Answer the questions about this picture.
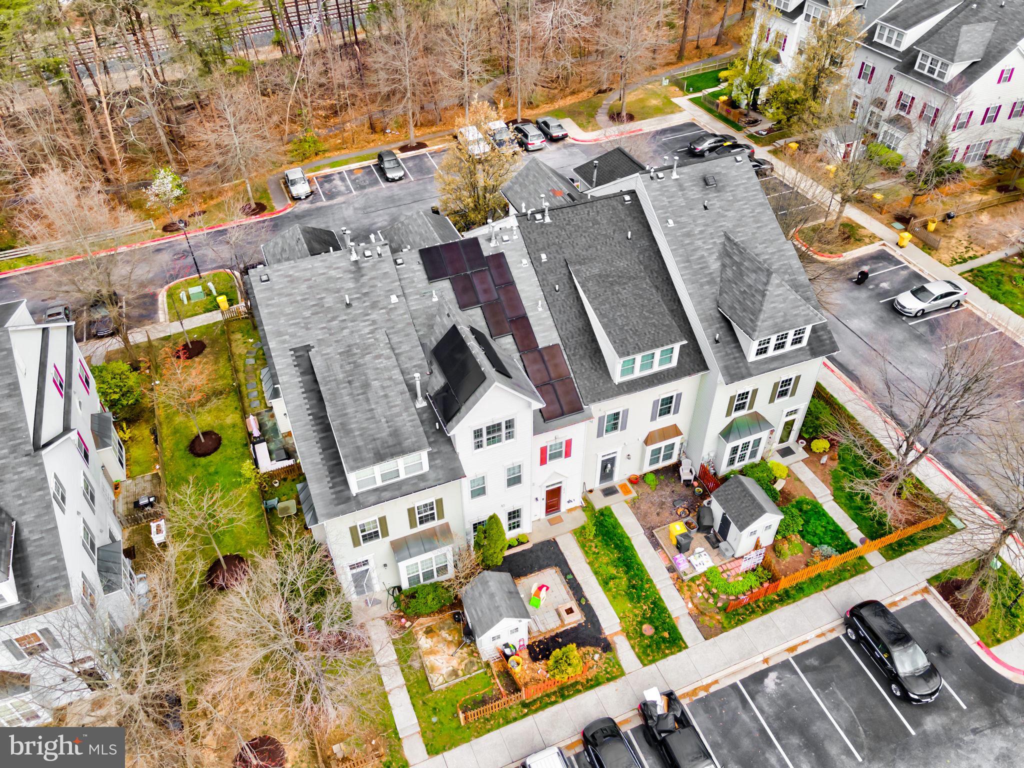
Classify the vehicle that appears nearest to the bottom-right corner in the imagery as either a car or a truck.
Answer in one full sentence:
I'd say the vehicle that appears nearest to the bottom-right corner is a car.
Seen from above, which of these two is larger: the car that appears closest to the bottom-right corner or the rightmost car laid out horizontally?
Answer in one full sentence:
It is the car that appears closest to the bottom-right corner that is larger, not the rightmost car laid out horizontally.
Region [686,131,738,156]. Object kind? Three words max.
car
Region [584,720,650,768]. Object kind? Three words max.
car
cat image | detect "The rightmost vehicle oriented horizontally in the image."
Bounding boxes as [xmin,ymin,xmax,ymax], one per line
[893,280,966,319]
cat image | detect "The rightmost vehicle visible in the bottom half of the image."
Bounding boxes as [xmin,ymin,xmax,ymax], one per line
[851,601,966,724]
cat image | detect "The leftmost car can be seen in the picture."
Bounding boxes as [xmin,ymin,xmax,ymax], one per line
[42,292,81,324]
